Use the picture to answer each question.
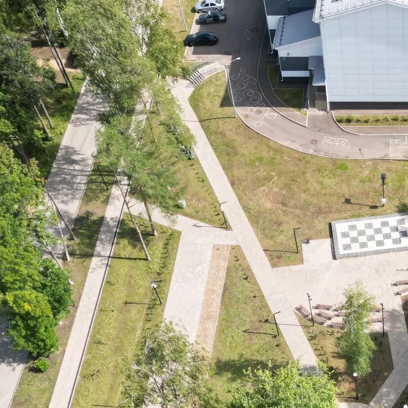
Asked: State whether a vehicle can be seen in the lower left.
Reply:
No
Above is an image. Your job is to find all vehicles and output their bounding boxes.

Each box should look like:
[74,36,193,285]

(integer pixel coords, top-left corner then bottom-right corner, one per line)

[196,9,228,25]
[183,30,220,48]
[194,0,226,14]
